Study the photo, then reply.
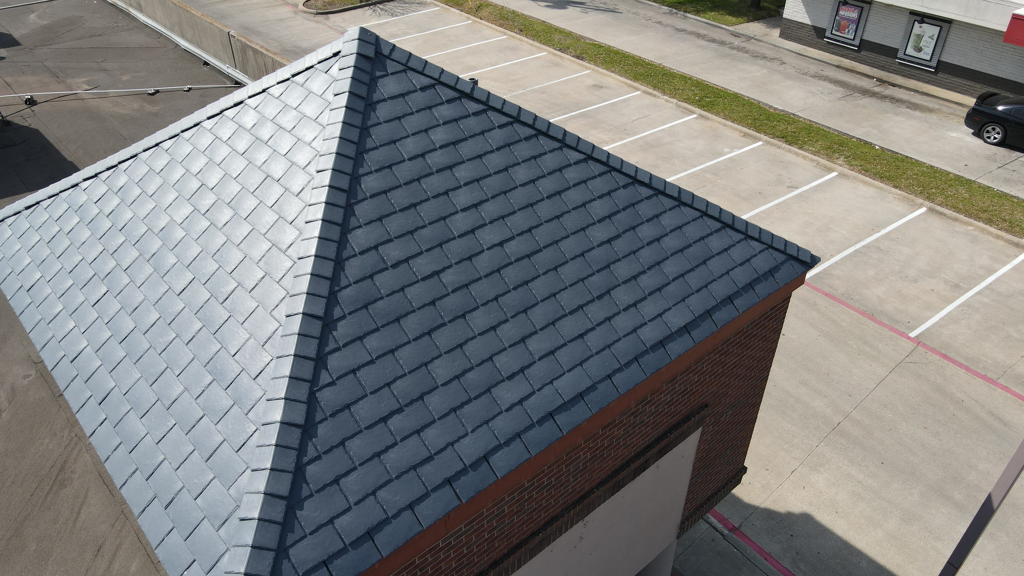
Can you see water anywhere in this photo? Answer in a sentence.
No, there's no water in this view.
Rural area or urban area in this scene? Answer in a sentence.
From above, the setting appears urban.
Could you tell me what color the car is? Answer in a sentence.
The car is black.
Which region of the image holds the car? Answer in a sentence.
The car is in the top right part of the image.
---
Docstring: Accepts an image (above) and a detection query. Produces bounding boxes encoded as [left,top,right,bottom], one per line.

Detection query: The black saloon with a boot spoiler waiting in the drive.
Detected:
[966,91,1024,147]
